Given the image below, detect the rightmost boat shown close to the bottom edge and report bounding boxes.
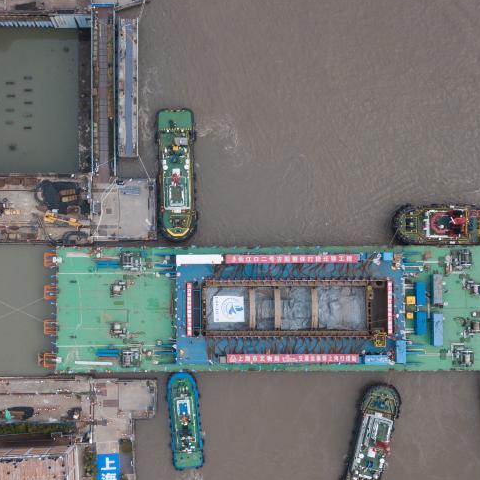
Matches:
[342,384,403,480]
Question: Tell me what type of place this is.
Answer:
port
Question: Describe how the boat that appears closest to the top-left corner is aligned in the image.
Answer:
vertically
